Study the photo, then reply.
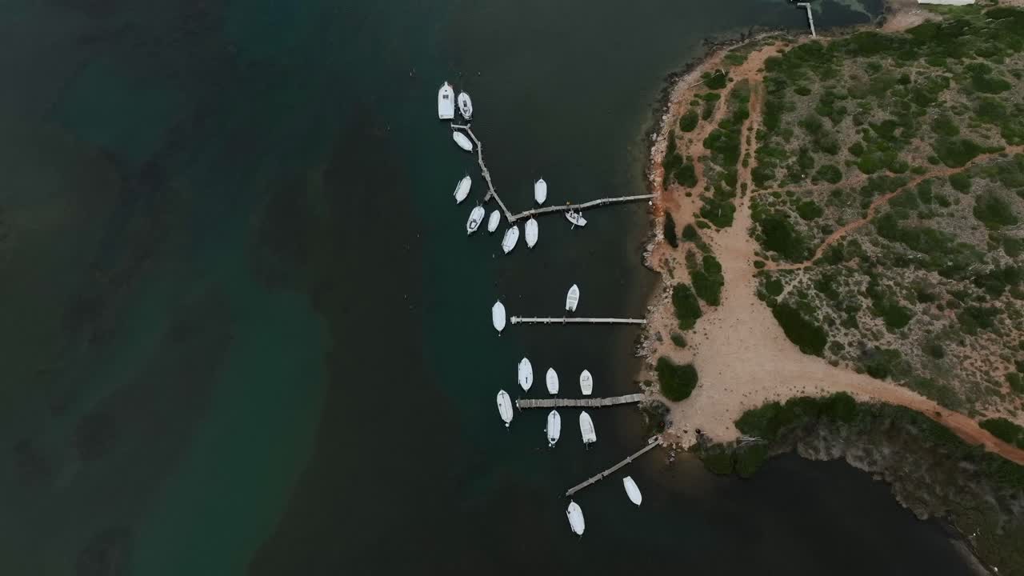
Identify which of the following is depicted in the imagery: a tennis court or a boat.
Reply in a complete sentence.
Looking from above, you can make out a boat.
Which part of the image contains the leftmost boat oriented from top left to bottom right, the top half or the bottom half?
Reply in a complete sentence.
It is in the top half that the leftmost boat oriented from top left to bottom right appears.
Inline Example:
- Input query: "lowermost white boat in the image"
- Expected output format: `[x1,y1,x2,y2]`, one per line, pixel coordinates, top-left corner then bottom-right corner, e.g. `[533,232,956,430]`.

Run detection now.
[566,495,585,536]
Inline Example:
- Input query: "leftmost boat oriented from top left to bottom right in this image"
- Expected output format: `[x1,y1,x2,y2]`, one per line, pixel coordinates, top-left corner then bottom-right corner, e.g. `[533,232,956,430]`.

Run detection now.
[451,129,473,155]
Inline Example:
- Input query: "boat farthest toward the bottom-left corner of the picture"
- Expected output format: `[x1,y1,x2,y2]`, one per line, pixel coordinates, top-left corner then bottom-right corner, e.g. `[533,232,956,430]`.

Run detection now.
[497,389,513,424]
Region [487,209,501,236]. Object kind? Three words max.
boat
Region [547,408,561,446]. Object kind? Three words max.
boat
